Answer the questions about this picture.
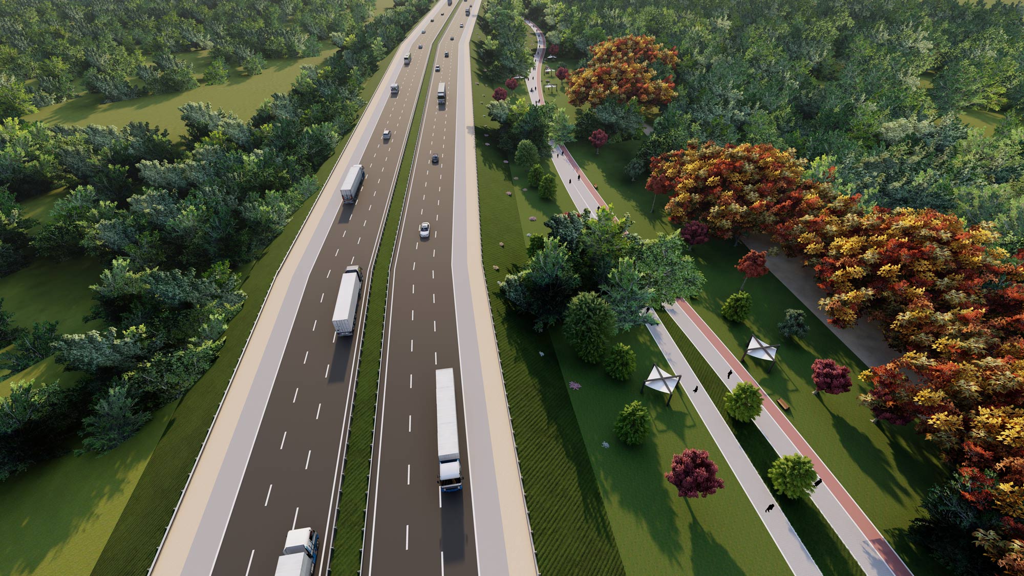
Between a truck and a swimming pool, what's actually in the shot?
truck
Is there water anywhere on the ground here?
No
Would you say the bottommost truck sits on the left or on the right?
left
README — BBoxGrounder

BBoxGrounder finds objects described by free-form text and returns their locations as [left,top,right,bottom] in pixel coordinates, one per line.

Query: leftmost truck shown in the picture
[274,524,319,576]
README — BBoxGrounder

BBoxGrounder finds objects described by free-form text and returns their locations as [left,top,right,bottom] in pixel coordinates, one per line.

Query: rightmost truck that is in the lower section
[434,366,462,491]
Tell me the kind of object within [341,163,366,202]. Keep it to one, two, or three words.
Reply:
truck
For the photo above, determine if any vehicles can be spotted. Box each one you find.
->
[432,152,439,161]
[383,130,391,137]
[437,82,446,103]
[341,163,366,202]
[420,223,430,235]
[274,524,319,576]
[331,264,362,334]
[465,6,470,14]
[434,366,462,491]
[404,52,411,63]
[391,85,398,93]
